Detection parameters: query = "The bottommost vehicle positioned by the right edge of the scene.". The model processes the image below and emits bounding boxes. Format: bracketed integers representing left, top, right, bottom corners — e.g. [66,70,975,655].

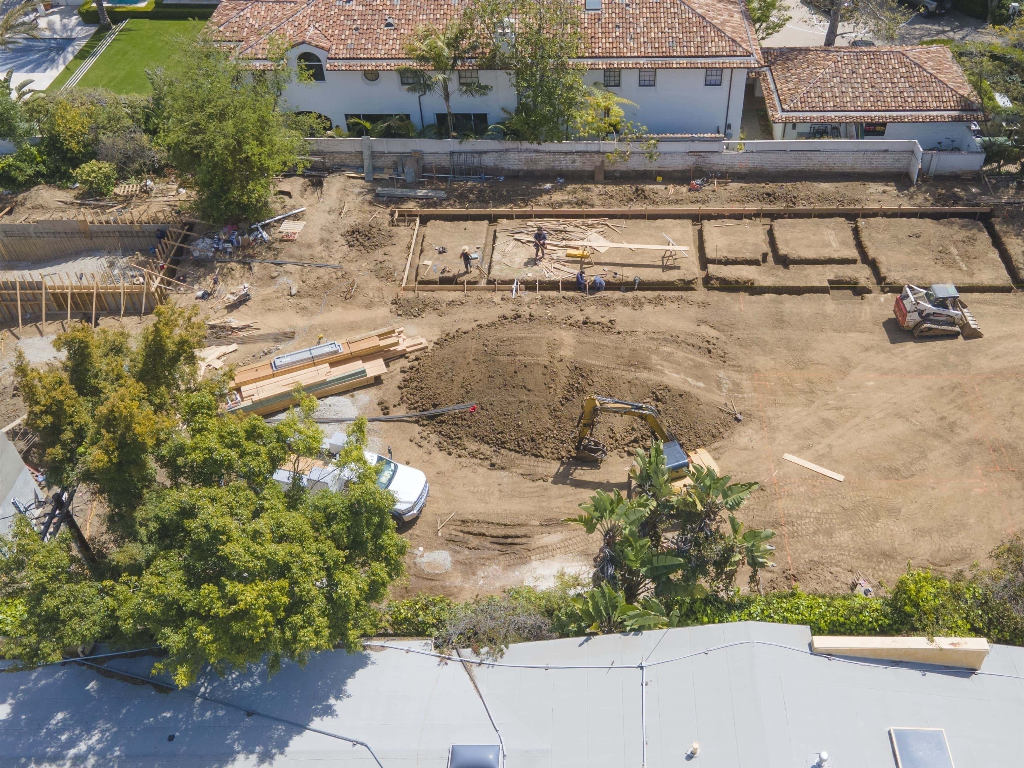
[893,280,990,345]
